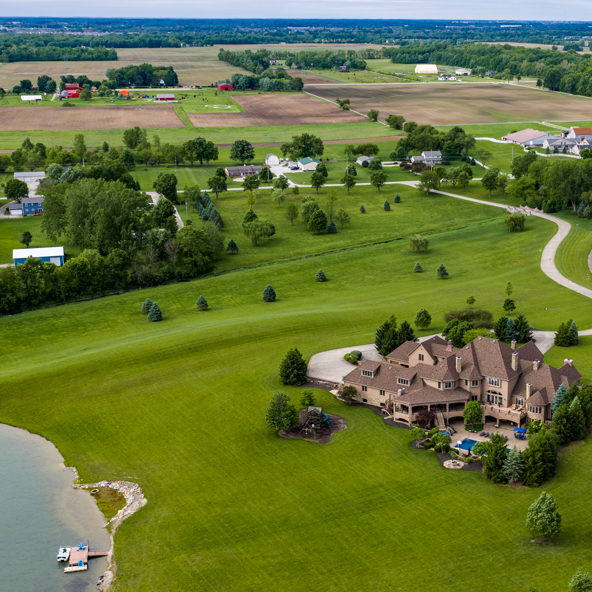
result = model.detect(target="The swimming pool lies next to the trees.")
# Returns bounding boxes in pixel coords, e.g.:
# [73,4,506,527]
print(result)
[453,437,478,452]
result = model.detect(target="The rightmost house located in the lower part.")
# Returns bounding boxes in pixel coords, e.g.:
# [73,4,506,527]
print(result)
[343,336,583,433]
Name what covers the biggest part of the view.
grass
